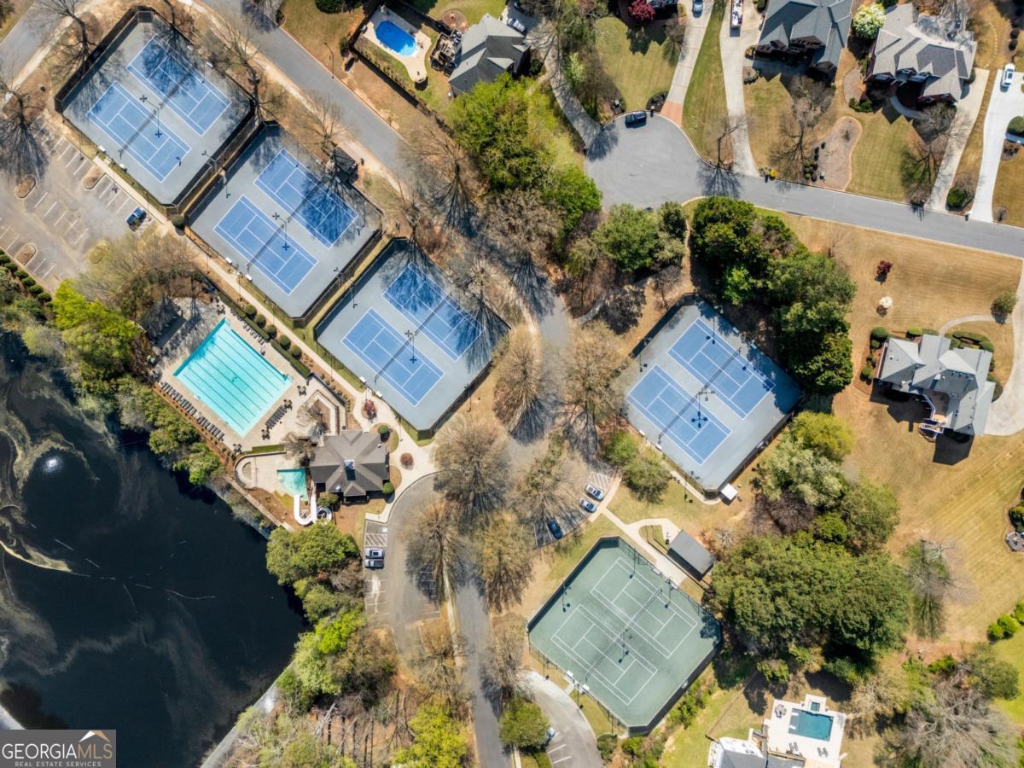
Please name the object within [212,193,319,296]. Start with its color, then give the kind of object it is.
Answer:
blue tennis court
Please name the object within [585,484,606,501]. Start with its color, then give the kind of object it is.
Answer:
white car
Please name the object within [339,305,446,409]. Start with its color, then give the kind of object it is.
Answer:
blue tennis court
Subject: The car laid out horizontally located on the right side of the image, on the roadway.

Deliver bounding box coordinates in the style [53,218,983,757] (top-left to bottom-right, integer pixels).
[625,112,647,124]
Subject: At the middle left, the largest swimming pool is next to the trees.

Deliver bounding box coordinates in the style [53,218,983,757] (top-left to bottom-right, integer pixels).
[173,318,292,437]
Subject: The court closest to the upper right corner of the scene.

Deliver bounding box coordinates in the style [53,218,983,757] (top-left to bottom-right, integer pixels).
[668,318,775,420]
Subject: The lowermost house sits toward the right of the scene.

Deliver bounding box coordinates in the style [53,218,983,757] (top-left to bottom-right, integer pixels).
[707,729,804,768]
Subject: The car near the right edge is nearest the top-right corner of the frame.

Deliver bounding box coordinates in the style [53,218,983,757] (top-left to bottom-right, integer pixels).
[1003,64,1018,86]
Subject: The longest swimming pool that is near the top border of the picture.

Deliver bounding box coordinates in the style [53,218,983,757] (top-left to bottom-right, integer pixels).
[375,20,416,56]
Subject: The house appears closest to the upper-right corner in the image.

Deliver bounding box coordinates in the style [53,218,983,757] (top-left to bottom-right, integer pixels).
[862,3,977,107]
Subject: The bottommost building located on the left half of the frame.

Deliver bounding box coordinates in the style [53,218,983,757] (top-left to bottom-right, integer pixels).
[306,430,389,503]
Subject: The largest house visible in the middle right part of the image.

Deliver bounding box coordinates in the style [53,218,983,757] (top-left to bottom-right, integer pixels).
[871,335,995,436]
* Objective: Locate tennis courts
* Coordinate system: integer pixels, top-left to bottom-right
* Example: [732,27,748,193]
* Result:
[379,260,487,363]
[550,604,658,705]
[85,80,192,182]
[339,305,446,409]
[668,318,775,420]
[252,147,359,250]
[625,363,732,465]
[590,557,698,658]
[125,34,232,136]
[212,193,319,296]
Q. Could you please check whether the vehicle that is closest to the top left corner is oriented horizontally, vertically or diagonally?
diagonally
